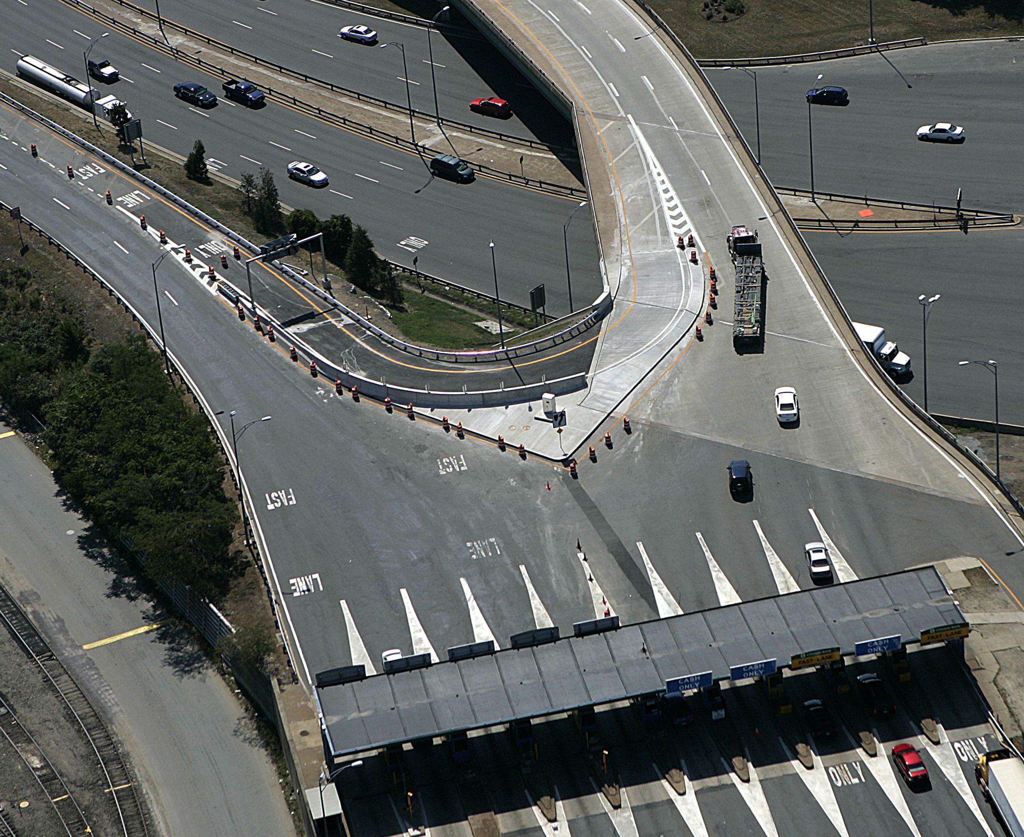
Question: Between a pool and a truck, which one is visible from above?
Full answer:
I can see a truck in this picture.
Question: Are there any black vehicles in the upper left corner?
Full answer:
Yes, looking in the upper left corner, one can make out a black vehicle.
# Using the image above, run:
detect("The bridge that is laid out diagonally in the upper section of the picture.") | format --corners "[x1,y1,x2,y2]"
[440,0,1024,541]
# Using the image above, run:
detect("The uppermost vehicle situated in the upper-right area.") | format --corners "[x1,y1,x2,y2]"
[801,82,853,104]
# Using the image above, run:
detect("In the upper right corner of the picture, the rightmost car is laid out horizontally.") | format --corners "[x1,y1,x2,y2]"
[914,119,969,141]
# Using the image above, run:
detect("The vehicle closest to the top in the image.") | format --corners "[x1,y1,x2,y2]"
[336,22,382,44]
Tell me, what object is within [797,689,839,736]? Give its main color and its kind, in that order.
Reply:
black car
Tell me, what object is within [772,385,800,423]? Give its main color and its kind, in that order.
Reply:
white car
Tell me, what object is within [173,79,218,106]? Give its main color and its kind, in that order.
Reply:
black car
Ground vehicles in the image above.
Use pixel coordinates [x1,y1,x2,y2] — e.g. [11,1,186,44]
[801,82,853,104]
[219,77,270,107]
[914,119,969,141]
[847,312,914,379]
[466,94,515,117]
[797,689,839,736]
[850,668,893,715]
[10,55,139,138]
[889,738,933,789]
[87,52,121,81]
[173,79,218,106]
[284,160,331,186]
[772,385,800,423]
[425,148,478,180]
[380,650,407,671]
[803,540,834,583]
[336,22,382,44]
[726,460,753,496]
[978,758,1024,837]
